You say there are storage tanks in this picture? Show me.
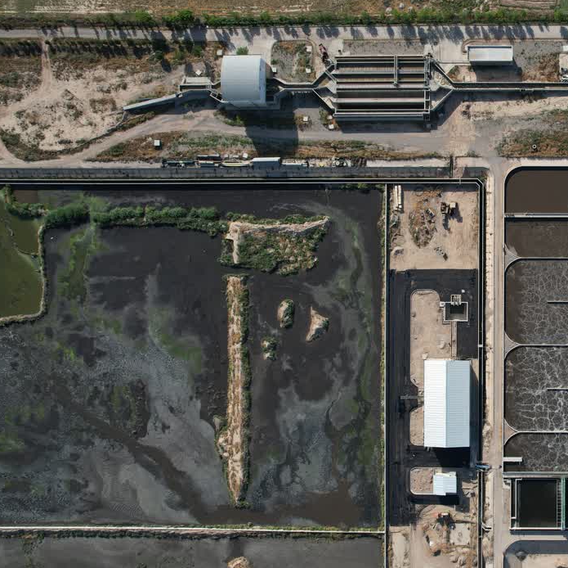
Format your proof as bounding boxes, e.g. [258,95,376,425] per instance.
[334,55,431,119]
[510,476,568,532]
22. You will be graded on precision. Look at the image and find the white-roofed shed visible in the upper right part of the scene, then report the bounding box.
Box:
[468,45,514,65]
